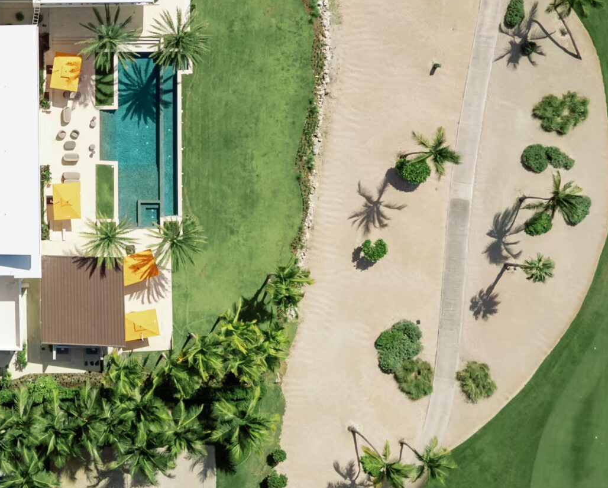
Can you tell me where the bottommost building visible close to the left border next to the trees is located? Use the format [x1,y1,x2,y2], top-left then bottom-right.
[29,255,126,373]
